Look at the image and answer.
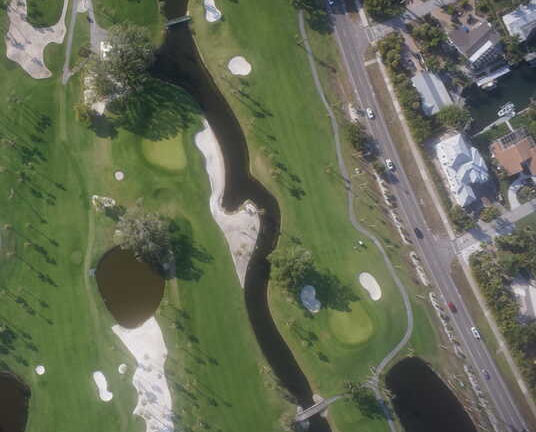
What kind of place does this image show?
golf course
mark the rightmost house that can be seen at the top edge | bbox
[500,2,536,44]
